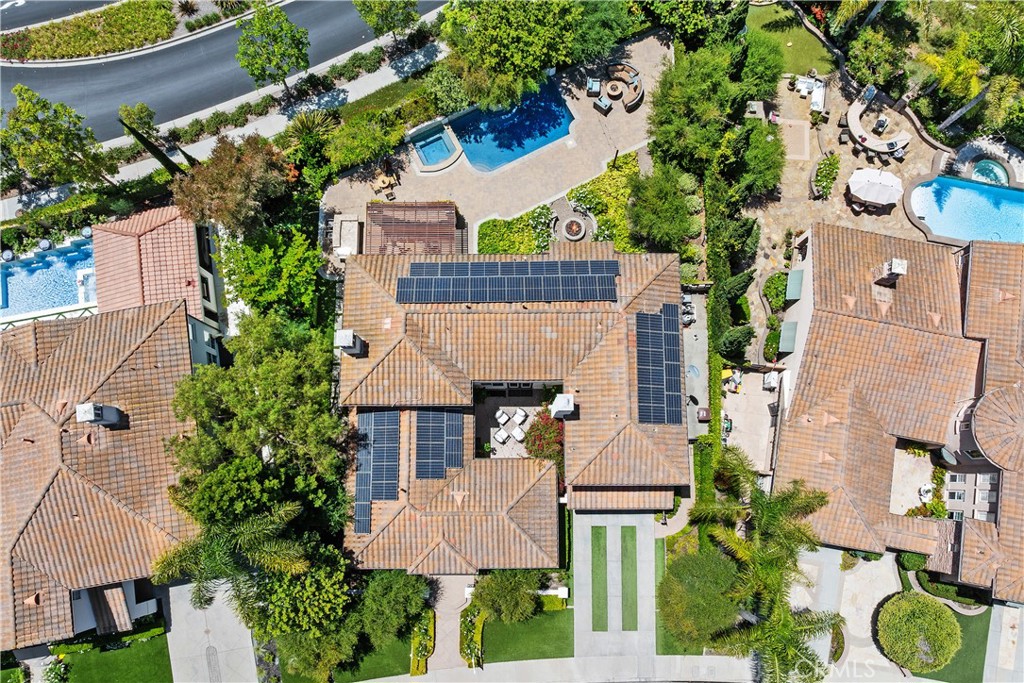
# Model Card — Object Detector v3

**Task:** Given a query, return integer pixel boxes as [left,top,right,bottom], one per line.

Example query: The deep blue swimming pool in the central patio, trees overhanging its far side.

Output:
[443,71,581,179]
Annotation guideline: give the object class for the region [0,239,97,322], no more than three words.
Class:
swimming pool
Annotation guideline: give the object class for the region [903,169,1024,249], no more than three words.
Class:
swimming pool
